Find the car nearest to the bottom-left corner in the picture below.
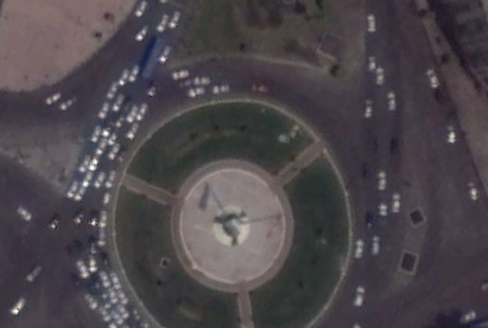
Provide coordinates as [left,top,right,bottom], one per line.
[12,299,25,313]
